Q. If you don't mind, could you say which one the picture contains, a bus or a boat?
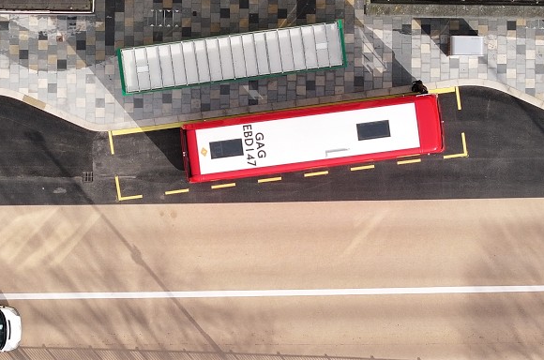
bus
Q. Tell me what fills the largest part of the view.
paved ground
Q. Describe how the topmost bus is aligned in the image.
from left to right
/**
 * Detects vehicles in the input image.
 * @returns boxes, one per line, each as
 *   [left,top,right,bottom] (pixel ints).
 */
[0,301,22,351]
[175,91,447,183]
